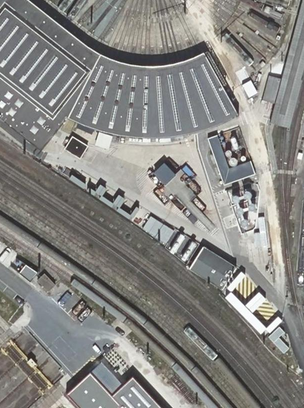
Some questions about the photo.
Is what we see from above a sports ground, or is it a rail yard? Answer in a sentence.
What you see here is a rail yard.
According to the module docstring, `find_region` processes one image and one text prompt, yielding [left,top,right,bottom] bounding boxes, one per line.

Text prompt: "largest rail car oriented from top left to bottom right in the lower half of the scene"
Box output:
[184,328,219,359]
